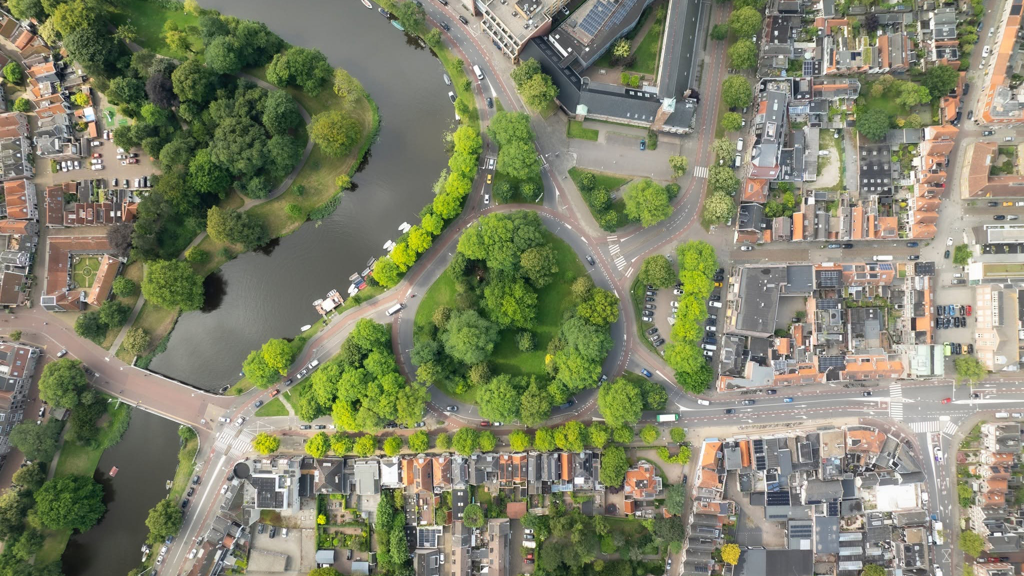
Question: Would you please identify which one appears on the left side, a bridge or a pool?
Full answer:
The one visible on the left side is a bridge.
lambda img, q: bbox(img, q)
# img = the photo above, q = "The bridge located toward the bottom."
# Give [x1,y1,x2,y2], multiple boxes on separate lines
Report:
[94,365,230,435]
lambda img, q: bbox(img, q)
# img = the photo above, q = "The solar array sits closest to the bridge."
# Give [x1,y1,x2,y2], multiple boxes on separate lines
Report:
[250,477,285,508]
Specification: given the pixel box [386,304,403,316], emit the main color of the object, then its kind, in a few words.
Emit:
white vehicle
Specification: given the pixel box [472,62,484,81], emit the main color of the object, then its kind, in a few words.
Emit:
white vehicle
